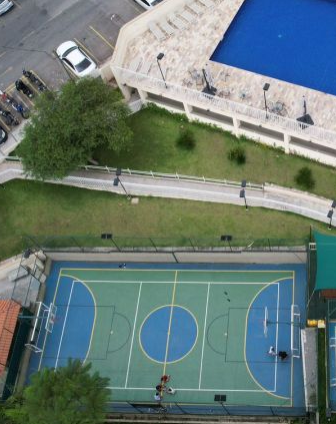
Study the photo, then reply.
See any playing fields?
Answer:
Yes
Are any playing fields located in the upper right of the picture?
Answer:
No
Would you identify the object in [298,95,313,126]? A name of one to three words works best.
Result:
umbrella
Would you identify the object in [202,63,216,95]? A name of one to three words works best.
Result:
umbrella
